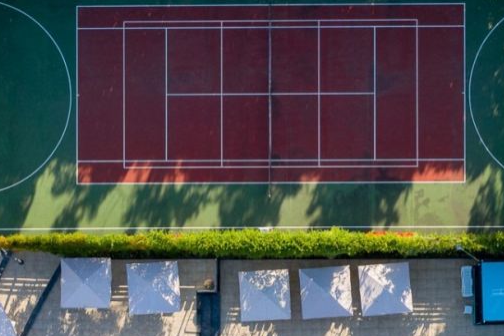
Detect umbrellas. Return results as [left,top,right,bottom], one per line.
[127,261,181,316]
[300,266,352,319]
[239,270,291,322]
[358,262,412,316]
[60,257,111,309]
